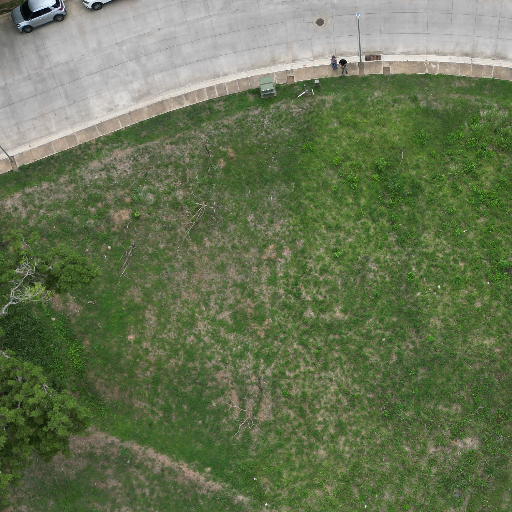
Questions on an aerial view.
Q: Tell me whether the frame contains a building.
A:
No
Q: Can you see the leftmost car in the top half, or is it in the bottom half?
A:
top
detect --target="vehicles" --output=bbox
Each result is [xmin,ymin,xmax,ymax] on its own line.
[10,0,67,33]
[81,0,117,11]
